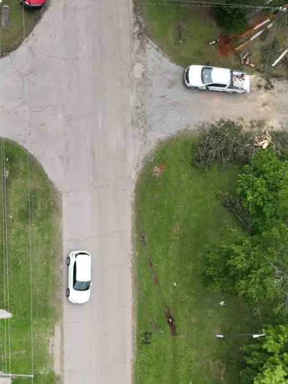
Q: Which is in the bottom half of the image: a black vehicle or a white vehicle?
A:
white vehicle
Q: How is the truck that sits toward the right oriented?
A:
horizontally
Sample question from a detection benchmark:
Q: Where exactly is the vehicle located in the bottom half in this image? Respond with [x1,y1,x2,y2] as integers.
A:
[65,250,93,304]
